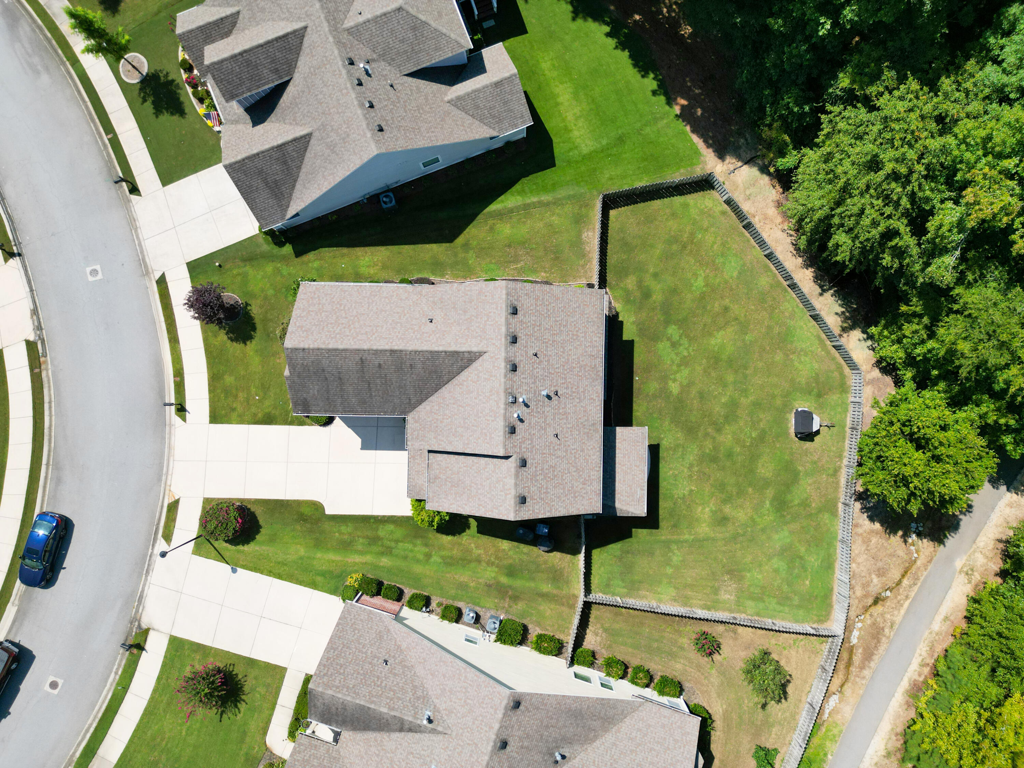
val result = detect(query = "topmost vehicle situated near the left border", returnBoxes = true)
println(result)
[18,510,69,586]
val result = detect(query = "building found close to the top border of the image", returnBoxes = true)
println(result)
[176,0,533,235]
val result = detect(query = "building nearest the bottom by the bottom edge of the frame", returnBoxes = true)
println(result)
[285,588,702,768]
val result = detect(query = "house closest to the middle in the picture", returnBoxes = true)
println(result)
[283,280,648,520]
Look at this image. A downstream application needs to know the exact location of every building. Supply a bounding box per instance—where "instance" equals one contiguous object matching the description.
[285,588,702,768]
[176,0,533,235]
[283,280,648,520]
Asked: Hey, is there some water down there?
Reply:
No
